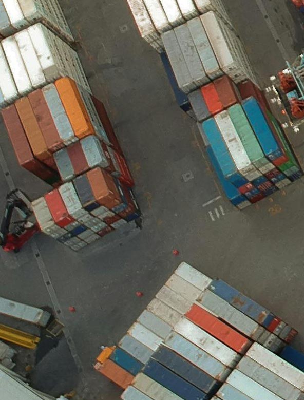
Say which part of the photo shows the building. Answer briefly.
bottom left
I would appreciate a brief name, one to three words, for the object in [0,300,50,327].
shipping container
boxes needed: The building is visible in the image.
[0,364,65,400]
